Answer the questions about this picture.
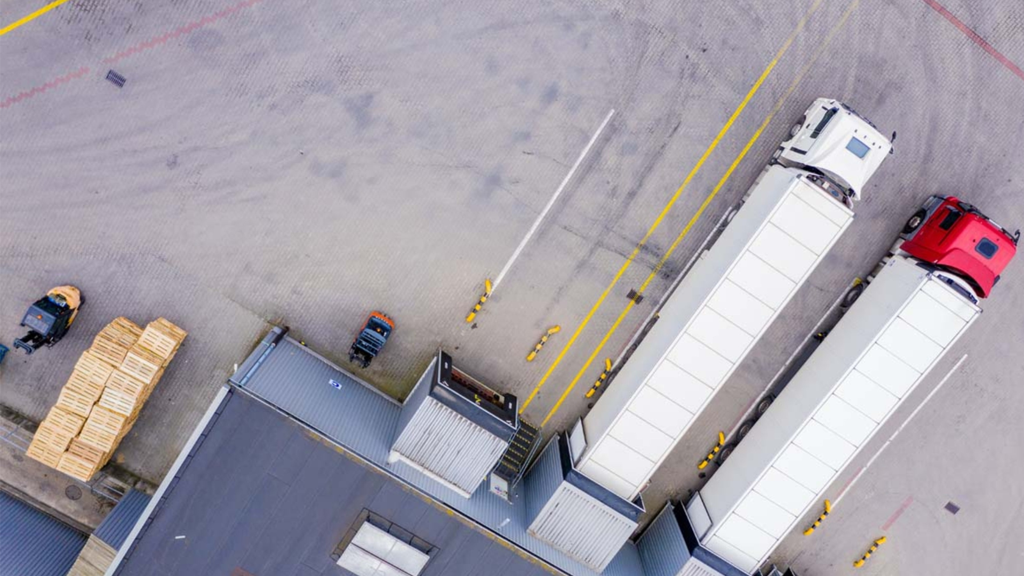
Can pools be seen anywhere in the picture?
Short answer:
No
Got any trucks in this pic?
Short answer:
Yes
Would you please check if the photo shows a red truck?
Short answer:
Yes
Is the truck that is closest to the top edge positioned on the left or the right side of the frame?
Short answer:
right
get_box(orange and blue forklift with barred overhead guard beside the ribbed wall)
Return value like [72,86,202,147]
[348,308,396,369]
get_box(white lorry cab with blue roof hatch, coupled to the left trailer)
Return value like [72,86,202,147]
[762,99,892,203]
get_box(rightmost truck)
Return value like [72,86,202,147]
[878,196,1011,297]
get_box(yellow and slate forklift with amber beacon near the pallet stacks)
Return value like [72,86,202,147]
[11,283,87,355]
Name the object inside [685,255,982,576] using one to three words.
trailer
